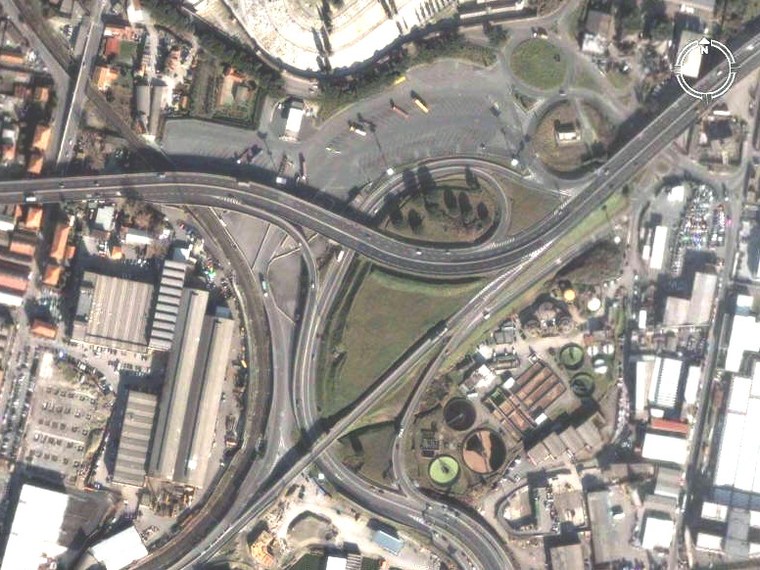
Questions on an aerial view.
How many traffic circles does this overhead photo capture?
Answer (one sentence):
Looking from above, you can make out 2 traffic circles.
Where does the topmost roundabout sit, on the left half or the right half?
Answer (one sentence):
The topmost roundabout sits on the right side.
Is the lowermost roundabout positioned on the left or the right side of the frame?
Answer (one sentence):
You can find the lowermost roundabout on the right side of the picture.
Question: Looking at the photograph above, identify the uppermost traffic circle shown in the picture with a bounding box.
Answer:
[501,25,577,101]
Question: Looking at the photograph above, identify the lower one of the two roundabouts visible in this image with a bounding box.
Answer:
[526,89,618,178]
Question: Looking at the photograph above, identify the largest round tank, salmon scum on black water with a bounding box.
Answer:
[462,429,507,473]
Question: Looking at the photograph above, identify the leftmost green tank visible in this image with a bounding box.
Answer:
[430,454,459,484]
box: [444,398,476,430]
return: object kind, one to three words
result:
storage tank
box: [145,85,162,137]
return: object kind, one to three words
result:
shed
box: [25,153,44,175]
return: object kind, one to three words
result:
house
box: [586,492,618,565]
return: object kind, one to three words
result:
building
